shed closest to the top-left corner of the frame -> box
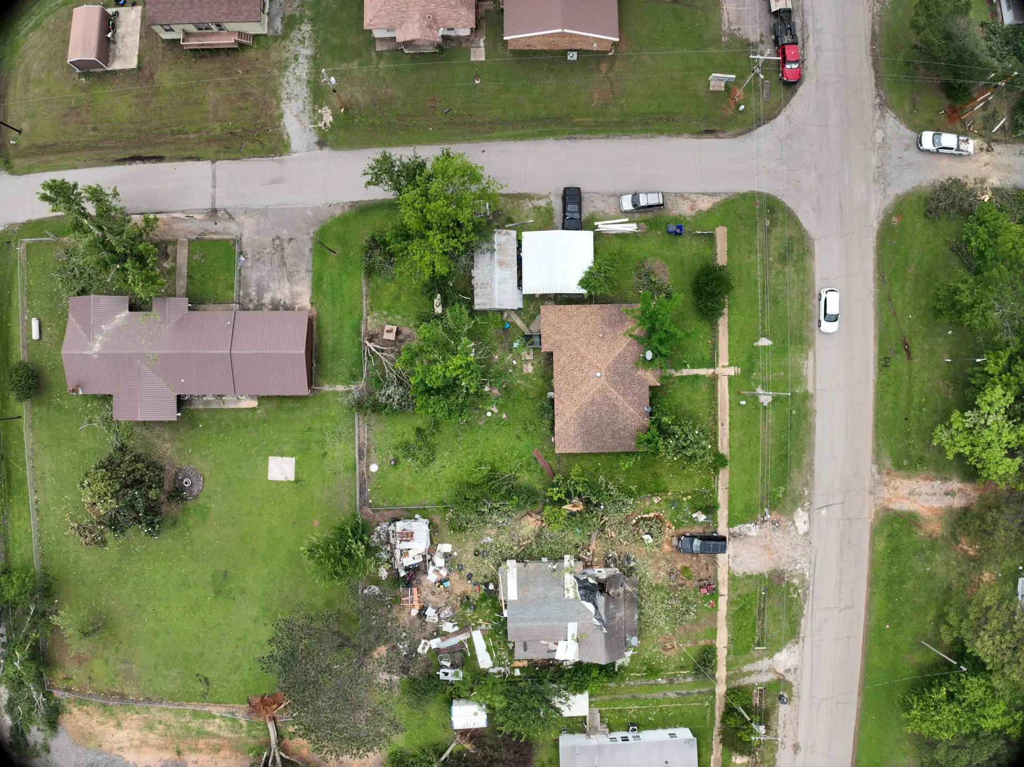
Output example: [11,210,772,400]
[65,4,110,72]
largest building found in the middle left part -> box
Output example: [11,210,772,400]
[60,296,311,421]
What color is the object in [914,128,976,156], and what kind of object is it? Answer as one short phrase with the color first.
white truck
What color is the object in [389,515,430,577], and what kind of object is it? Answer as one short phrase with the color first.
white trailer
